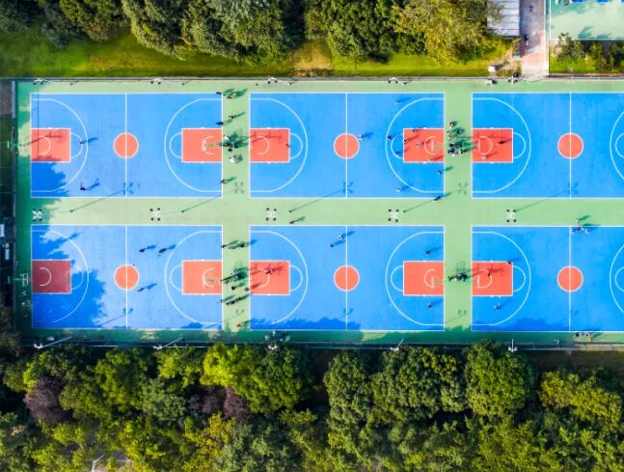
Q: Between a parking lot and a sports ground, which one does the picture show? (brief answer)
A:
sports ground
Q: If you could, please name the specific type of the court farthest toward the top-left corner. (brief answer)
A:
basketball court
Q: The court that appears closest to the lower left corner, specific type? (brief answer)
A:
basketball court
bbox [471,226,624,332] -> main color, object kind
blue basketball court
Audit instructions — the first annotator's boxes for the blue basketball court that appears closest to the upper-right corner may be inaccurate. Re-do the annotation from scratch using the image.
[472,92,624,199]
